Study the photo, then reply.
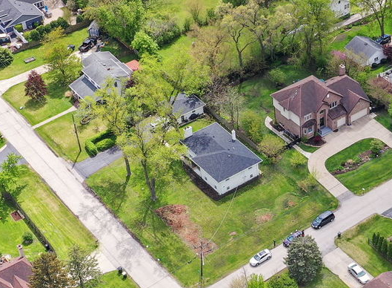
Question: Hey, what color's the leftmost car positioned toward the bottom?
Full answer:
From above, the leftmost car positioned toward the bottom appears white.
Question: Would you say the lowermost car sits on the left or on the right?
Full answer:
The lowermost car is on the right side of the image.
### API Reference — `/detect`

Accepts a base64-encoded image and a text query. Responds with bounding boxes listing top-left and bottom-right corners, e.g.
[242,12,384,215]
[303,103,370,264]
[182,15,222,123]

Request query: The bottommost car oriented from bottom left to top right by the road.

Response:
[248,246,275,268]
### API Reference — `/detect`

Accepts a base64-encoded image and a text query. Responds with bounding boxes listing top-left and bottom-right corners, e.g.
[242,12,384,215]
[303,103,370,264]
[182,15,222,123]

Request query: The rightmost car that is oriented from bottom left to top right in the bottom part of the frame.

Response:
[309,208,337,230]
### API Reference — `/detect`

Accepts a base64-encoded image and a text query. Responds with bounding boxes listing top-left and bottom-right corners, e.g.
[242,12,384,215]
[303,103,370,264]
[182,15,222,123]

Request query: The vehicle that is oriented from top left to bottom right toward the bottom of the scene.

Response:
[346,262,372,284]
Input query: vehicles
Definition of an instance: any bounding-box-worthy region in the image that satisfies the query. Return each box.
[248,246,275,268]
[309,208,337,230]
[346,262,372,284]
[74,38,101,52]
[281,228,307,249]
[373,33,392,46]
